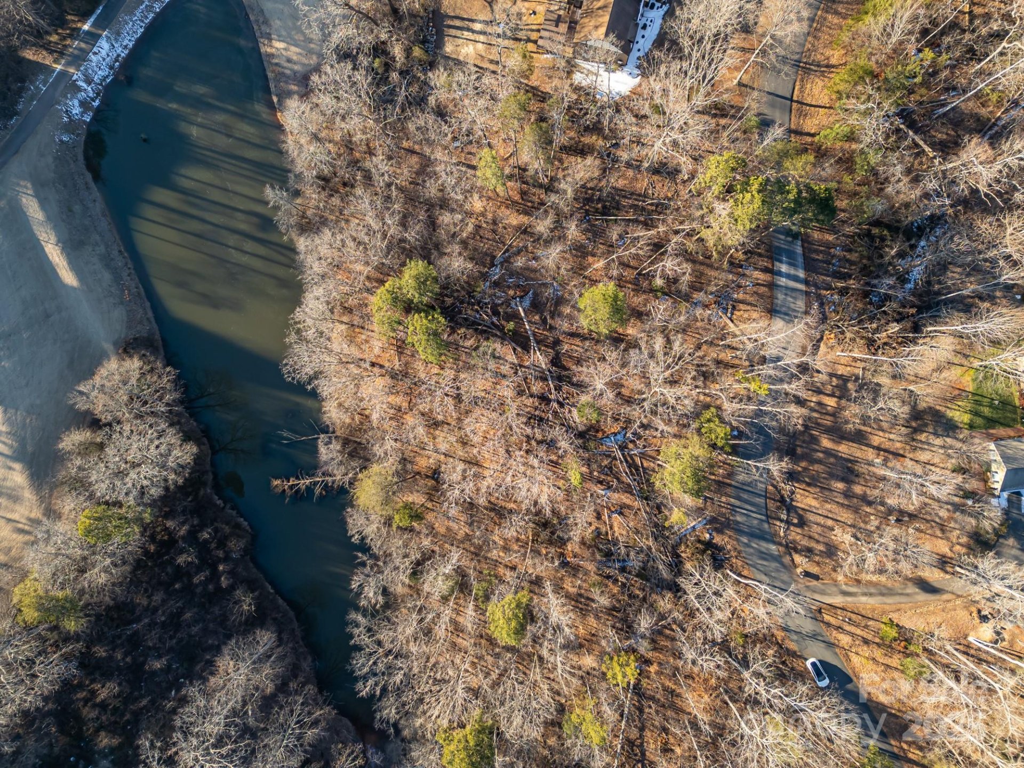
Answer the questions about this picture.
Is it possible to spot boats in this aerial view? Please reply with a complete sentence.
No, the photo shows no boat.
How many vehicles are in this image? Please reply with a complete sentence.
The count comes to 1 vehicle.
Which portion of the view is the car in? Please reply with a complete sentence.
The car is located in the bottom right region of the scene.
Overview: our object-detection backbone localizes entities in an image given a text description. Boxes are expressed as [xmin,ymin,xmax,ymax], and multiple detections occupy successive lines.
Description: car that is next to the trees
[806,655,829,687]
